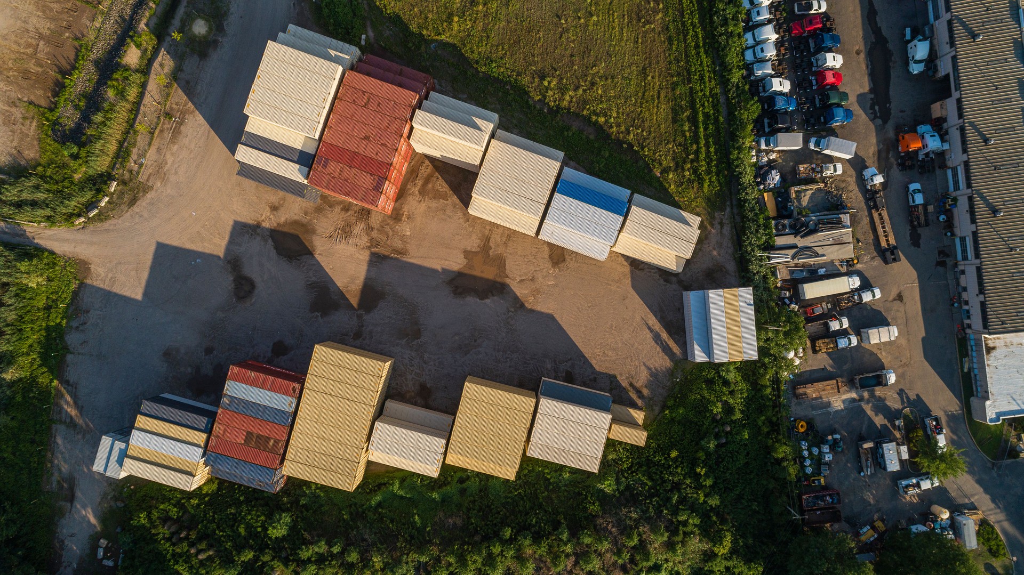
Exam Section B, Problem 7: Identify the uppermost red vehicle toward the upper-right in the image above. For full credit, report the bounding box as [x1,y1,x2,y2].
[786,14,838,39]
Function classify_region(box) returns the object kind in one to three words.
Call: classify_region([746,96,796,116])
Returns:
vehicle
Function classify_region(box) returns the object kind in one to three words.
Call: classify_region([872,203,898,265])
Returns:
trailer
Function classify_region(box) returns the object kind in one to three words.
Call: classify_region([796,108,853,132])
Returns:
truck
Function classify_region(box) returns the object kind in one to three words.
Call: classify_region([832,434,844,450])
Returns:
vehicle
